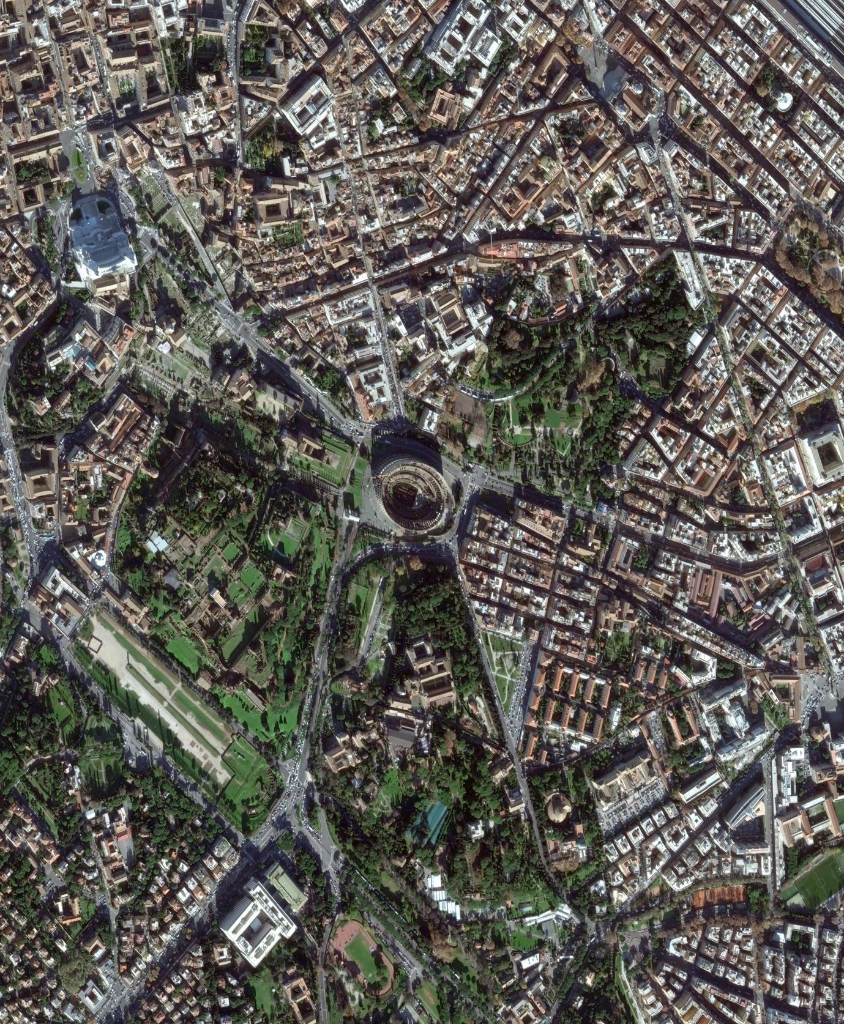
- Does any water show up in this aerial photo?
No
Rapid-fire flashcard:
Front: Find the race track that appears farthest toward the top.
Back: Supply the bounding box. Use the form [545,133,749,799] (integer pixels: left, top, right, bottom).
[70,612,277,809]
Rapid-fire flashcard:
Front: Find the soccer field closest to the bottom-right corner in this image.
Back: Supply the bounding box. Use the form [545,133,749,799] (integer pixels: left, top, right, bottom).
[795,855,844,910]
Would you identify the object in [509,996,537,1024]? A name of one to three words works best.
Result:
building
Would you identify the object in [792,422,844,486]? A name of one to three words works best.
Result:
building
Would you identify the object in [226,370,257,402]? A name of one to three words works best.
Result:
house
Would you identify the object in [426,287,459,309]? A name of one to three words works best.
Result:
house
